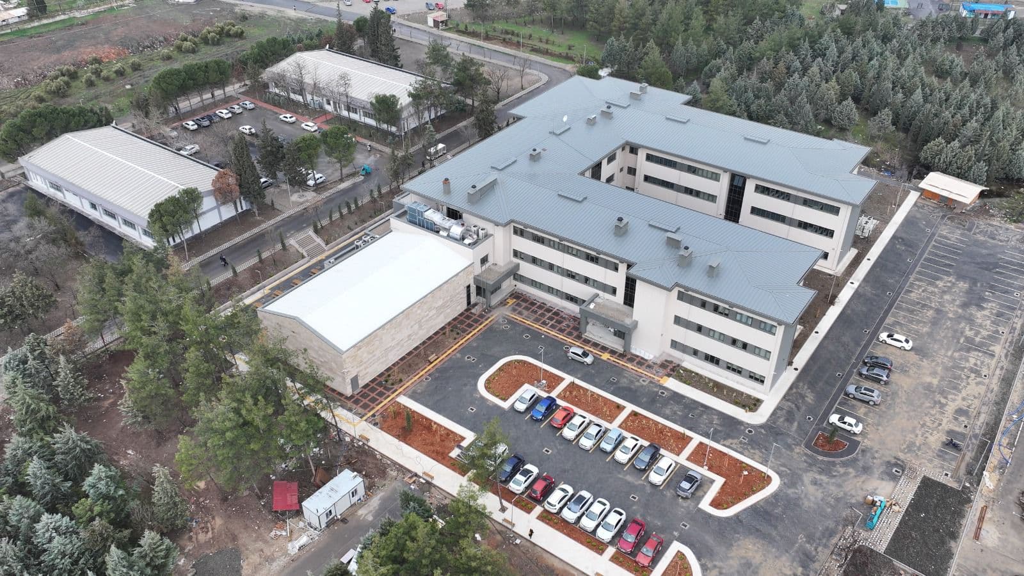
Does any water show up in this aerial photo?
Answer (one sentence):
No, there is no water in the image.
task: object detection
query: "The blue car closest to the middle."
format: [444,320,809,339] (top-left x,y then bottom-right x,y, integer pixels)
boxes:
[529,396,558,422]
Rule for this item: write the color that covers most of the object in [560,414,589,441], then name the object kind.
white car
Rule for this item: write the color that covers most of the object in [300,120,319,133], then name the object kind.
white vehicle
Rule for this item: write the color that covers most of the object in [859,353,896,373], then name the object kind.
gray car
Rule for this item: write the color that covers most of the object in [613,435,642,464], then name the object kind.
white car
